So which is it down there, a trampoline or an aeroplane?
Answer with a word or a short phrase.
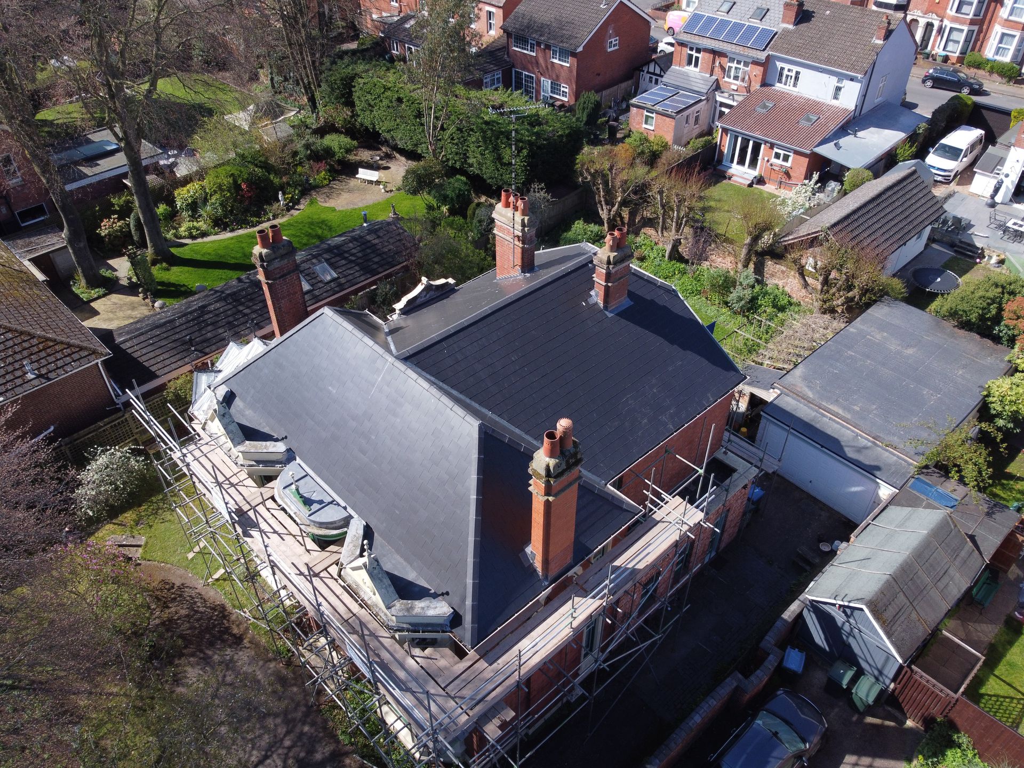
trampoline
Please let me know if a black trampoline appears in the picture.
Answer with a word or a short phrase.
Yes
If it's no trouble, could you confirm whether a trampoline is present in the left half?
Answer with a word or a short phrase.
No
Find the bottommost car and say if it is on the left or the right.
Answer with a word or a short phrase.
right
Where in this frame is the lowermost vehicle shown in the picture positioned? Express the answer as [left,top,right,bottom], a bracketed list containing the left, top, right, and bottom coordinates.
[711,685,840,768]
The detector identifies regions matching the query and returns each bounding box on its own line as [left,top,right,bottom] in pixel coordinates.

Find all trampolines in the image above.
[908,264,967,301]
